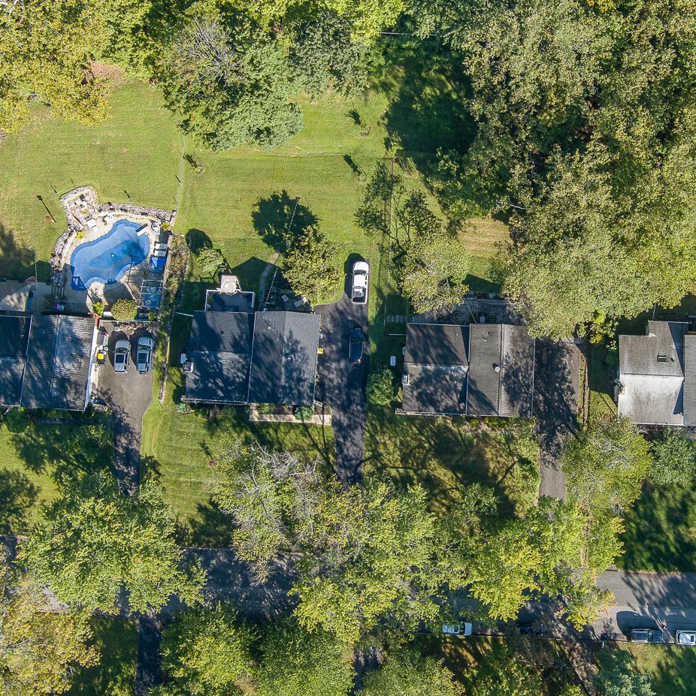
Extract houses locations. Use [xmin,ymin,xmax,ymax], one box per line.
[182,309,324,407]
[610,320,696,428]
[401,322,535,419]
[0,313,107,413]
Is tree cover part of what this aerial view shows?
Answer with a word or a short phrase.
Yes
